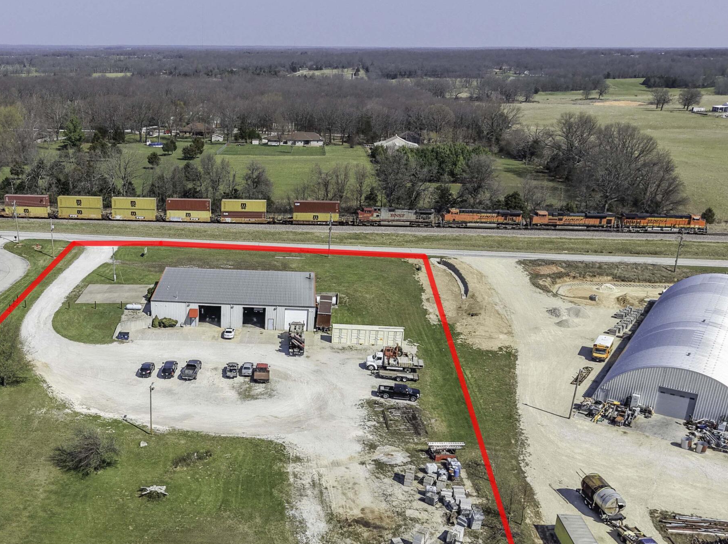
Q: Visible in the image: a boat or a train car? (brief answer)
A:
train car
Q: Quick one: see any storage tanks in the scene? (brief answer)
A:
Yes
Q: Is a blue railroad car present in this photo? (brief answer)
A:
No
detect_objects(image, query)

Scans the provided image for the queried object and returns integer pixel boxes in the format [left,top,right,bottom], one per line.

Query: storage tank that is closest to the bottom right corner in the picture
[575,461,632,513]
